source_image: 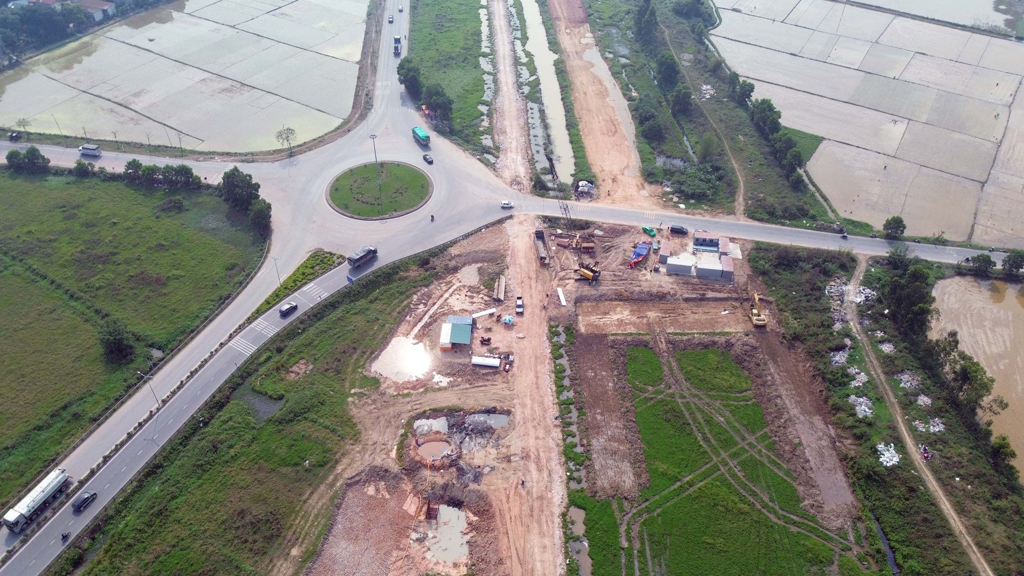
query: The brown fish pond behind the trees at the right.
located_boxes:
[931,277,1024,481]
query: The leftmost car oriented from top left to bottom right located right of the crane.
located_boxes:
[641,227,656,239]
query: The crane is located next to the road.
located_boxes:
[543,153,599,279]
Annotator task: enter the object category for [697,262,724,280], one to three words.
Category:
building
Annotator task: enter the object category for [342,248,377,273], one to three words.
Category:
truck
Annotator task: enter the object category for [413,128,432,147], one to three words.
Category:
vehicle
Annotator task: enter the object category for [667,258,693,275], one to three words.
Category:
building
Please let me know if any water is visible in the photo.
Yes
